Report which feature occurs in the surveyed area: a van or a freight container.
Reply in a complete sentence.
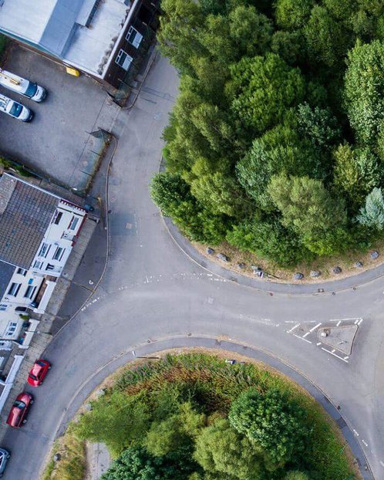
I can see a van in this picture.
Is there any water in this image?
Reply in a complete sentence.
No, the scene doesn't show any water.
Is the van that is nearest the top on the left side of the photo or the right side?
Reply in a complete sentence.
You can find the van that is nearest the top on the left side of the picture.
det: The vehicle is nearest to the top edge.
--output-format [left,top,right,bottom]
[0,66,48,103]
